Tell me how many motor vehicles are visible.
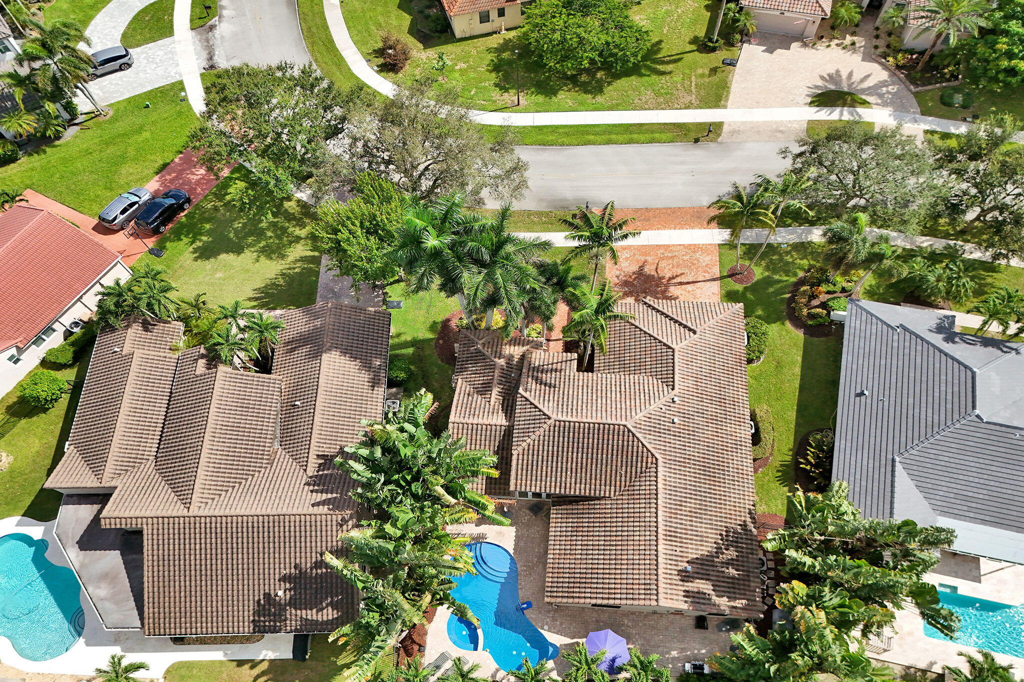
three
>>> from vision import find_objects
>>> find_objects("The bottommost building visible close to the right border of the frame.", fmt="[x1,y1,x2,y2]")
[828,298,1024,569]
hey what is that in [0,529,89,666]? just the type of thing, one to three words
swimming pool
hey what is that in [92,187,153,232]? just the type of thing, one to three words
car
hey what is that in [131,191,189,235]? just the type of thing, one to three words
car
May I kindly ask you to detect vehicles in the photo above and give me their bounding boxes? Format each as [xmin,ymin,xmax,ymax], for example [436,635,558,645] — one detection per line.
[131,191,189,235]
[79,45,134,79]
[92,187,153,232]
